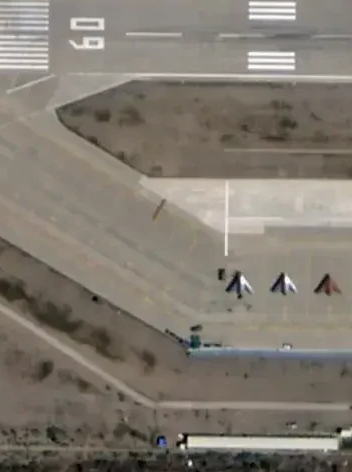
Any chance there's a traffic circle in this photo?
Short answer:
No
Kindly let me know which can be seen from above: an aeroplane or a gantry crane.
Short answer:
aeroplane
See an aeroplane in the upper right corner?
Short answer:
No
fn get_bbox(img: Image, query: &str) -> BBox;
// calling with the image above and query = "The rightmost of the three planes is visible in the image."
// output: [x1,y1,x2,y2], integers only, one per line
[318,273,341,297]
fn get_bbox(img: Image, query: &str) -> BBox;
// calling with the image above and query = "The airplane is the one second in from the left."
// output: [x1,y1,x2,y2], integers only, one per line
[274,272,297,296]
